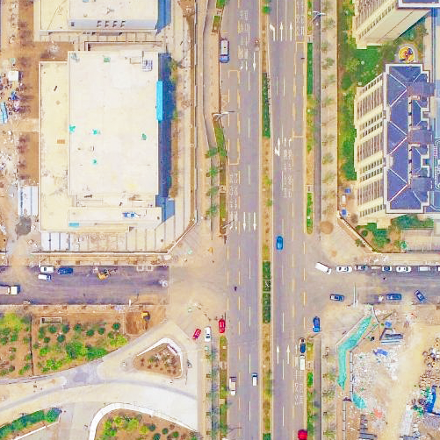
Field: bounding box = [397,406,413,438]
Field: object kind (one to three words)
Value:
shed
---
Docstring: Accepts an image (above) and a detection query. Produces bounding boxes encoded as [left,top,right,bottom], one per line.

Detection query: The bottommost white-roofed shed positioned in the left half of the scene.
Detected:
[41,233,70,250]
